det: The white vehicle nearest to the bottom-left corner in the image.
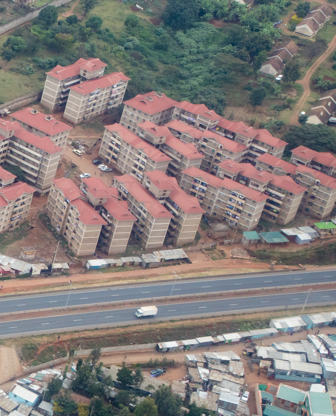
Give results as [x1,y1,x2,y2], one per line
[137,304,160,317]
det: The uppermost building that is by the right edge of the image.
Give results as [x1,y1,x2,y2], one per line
[298,1,328,36]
